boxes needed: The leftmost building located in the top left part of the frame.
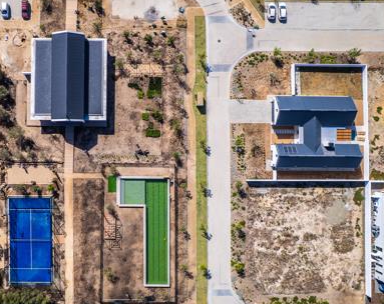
[28,29,107,127]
